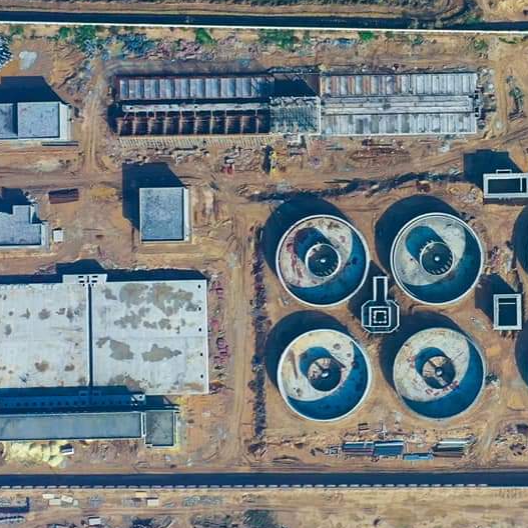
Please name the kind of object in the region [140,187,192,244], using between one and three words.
building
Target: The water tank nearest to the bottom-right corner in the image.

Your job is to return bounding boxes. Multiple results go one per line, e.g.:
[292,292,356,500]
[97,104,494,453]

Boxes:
[393,325,485,419]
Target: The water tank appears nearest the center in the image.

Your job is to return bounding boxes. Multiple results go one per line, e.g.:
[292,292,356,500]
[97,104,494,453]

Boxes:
[277,214,370,307]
